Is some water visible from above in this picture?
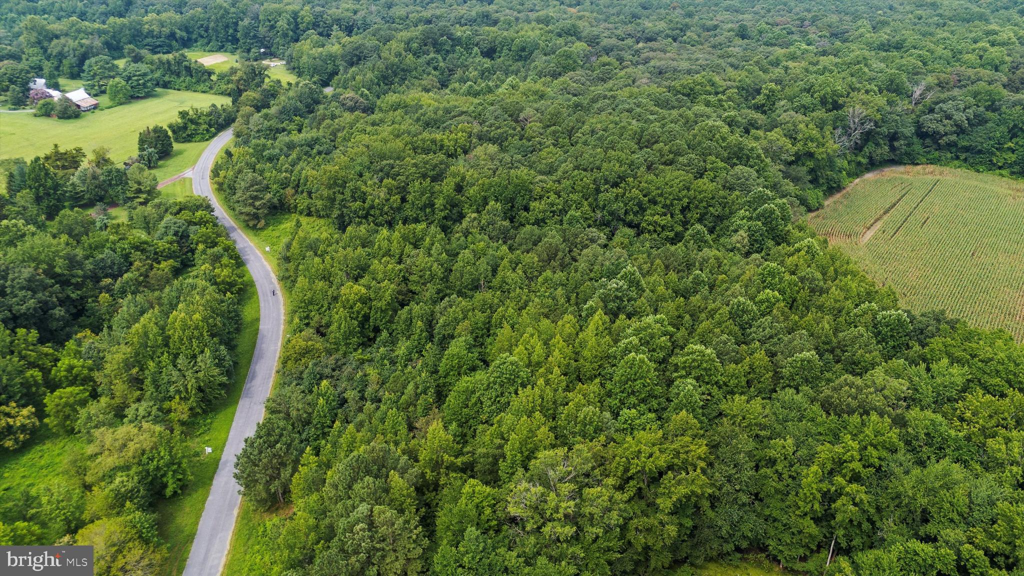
No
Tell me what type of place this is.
forest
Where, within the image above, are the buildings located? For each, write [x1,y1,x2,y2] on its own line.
[28,77,62,94]
[59,91,99,112]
